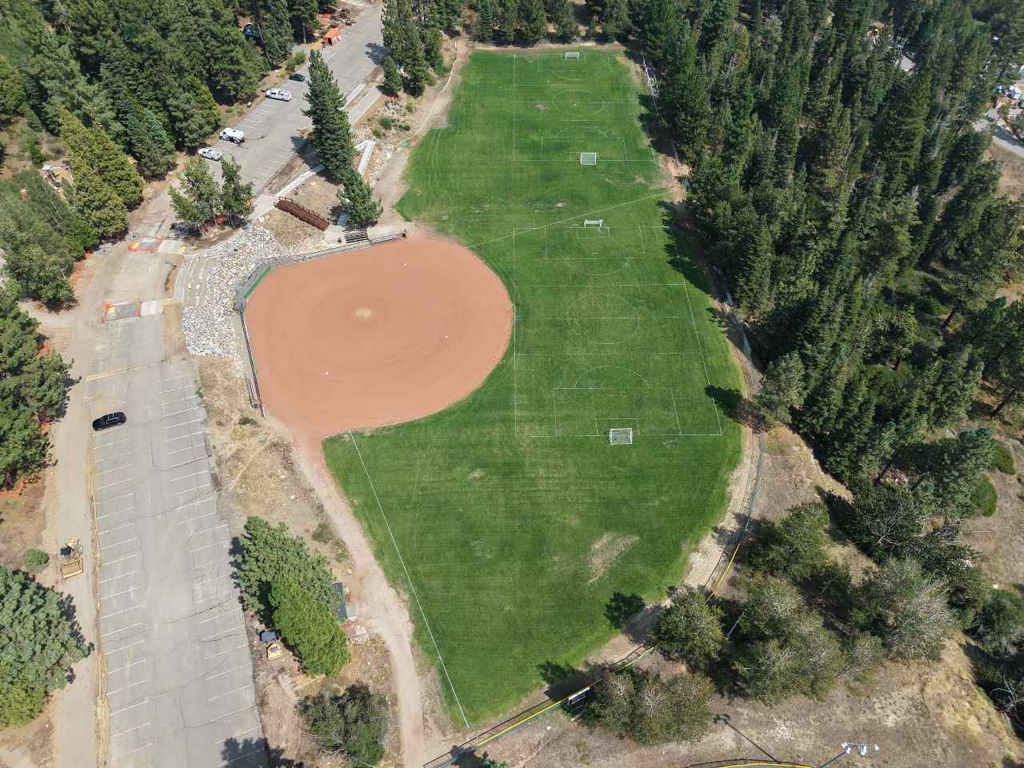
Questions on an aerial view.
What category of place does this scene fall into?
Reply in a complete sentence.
What you see here is a sports ground.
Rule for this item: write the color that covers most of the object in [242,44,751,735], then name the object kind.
green baseball field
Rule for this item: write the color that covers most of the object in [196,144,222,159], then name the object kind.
white vehicle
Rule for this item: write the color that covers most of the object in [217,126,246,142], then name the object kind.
white vehicle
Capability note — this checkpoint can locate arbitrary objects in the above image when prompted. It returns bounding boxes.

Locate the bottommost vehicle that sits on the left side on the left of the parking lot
[56,539,82,583]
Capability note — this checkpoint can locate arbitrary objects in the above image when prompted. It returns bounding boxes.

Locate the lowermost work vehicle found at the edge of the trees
[256,622,281,661]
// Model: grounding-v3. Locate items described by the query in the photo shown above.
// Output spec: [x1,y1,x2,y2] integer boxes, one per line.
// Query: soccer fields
[513,54,654,161]
[514,227,721,436]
